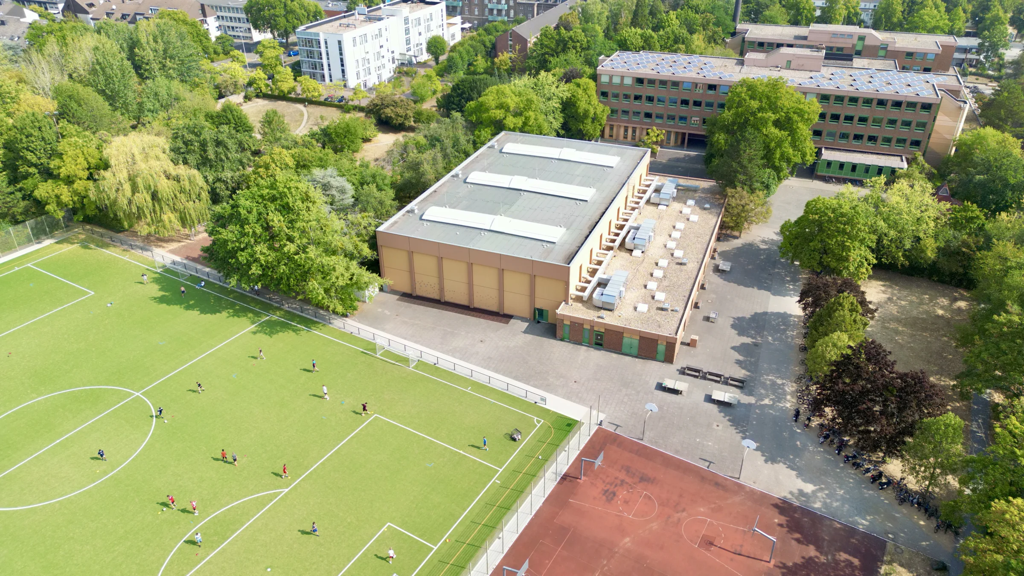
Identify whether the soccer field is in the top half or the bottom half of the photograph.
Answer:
bottom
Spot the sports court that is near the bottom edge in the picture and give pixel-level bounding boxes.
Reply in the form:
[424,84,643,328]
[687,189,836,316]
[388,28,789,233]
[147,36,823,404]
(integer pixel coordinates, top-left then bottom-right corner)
[490,426,888,576]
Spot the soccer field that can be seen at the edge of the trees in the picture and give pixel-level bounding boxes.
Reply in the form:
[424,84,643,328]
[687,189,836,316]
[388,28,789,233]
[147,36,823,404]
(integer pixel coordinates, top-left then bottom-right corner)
[0,232,580,576]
